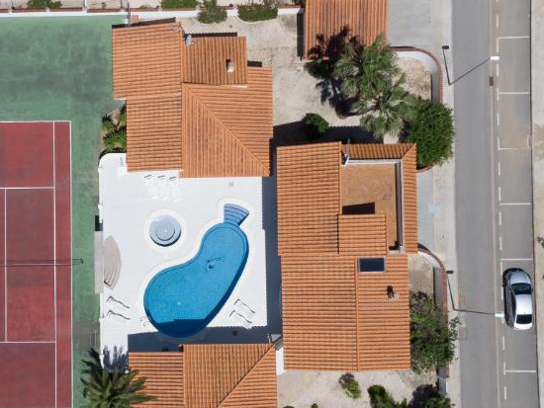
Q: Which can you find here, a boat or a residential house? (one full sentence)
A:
Visible in the photo is a residential house.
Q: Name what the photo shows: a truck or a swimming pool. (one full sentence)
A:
I can see a swimming pool in this picture.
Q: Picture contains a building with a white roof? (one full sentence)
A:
No, there is no building with a white roof in the image.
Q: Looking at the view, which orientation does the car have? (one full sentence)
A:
What the image shows is the car lying from top to bottom.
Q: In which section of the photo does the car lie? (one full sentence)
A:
The car sits in the bottom right section of the image.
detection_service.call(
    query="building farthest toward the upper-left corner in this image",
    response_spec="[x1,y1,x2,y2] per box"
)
[112,19,273,177]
